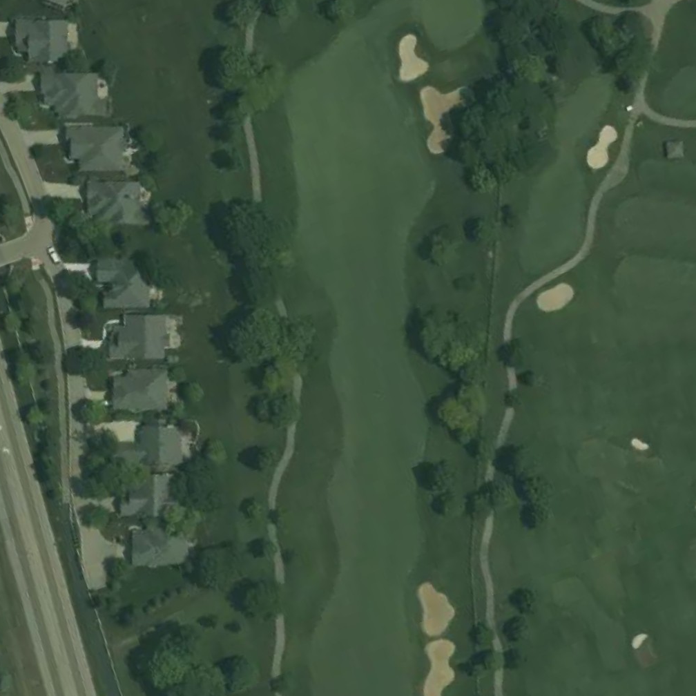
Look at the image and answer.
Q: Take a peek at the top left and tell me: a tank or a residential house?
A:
residential house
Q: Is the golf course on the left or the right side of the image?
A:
right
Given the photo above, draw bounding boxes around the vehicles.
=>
[626,105,633,111]
[47,245,62,264]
